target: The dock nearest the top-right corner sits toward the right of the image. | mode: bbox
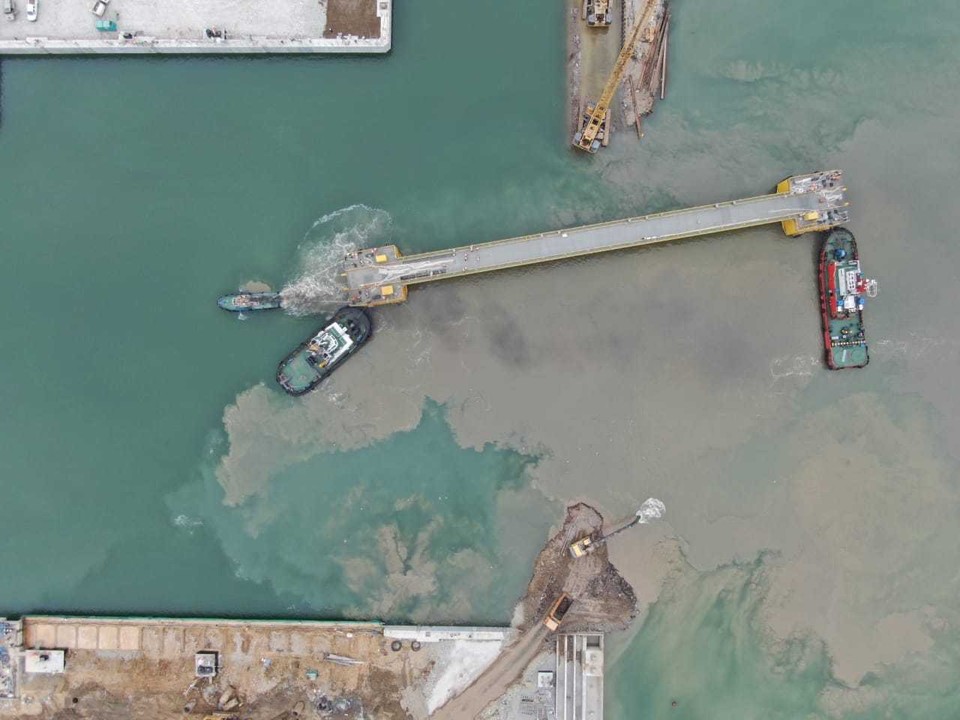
[773,170,851,236]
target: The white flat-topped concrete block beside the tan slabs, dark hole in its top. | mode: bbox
[22,644,68,672]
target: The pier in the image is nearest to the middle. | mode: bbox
[340,247,409,308]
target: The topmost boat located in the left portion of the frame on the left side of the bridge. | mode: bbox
[217,291,283,311]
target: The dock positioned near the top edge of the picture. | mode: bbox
[0,0,391,54]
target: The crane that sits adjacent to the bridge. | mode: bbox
[575,0,661,150]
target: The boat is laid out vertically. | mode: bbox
[817,226,877,370]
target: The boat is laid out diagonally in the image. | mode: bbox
[276,304,377,398]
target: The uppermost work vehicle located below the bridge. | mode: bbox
[566,511,647,562]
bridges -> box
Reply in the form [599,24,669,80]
[340,170,851,308]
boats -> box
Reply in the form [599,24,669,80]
[276,304,377,398]
[217,291,283,311]
[817,226,877,370]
